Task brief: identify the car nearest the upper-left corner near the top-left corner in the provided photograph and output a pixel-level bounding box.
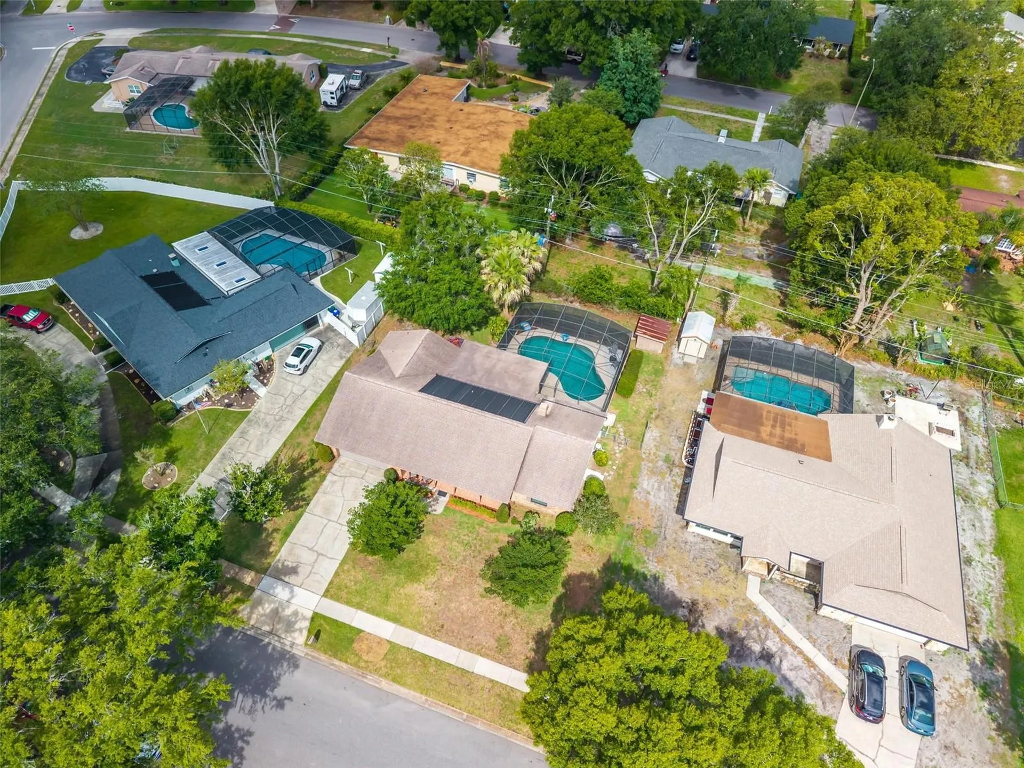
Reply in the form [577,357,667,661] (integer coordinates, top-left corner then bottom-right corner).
[93,62,121,78]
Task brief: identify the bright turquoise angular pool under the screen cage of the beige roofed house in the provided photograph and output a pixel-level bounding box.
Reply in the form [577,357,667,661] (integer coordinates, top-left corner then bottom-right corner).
[730,367,834,416]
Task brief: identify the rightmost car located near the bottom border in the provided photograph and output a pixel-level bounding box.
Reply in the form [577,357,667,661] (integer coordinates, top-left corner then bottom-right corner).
[900,659,939,734]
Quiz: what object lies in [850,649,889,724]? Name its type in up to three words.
car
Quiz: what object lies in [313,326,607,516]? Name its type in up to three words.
house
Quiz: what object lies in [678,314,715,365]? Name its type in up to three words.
shed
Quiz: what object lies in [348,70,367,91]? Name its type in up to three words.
car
